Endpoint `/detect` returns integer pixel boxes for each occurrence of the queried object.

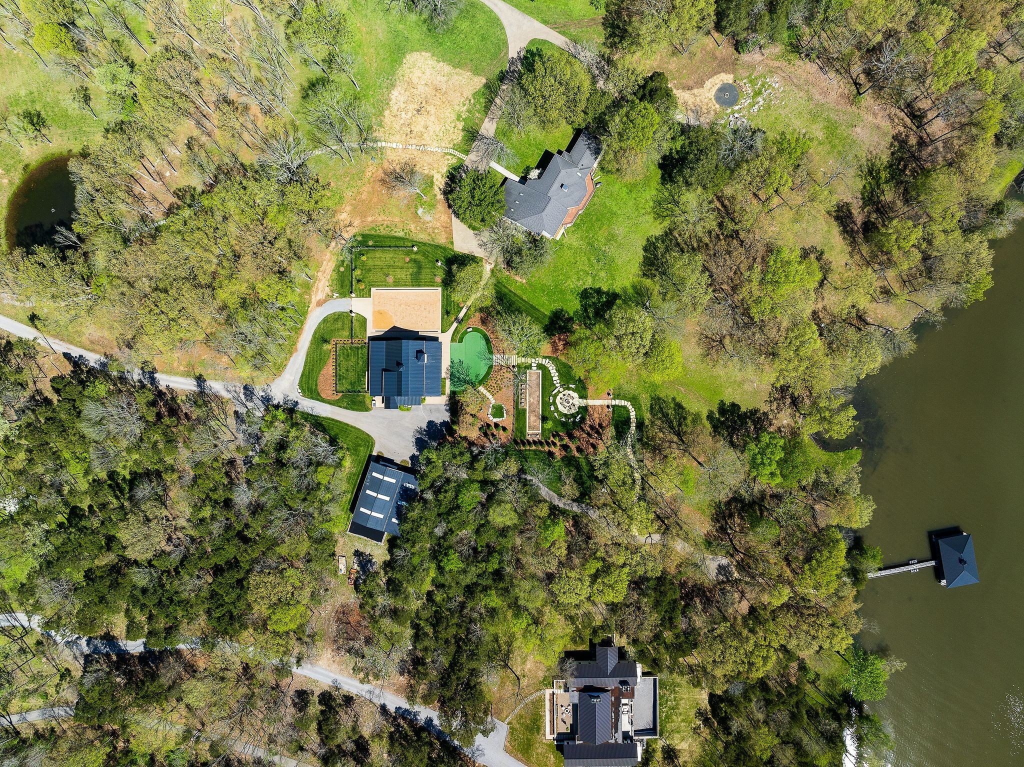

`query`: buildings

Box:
[503,130,604,241]
[369,340,442,409]
[933,534,980,588]
[348,461,418,544]
[545,631,659,766]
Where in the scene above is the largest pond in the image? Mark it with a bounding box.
[9,153,120,252]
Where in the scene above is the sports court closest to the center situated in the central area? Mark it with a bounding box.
[518,371,541,440]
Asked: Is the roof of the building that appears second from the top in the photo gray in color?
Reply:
No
